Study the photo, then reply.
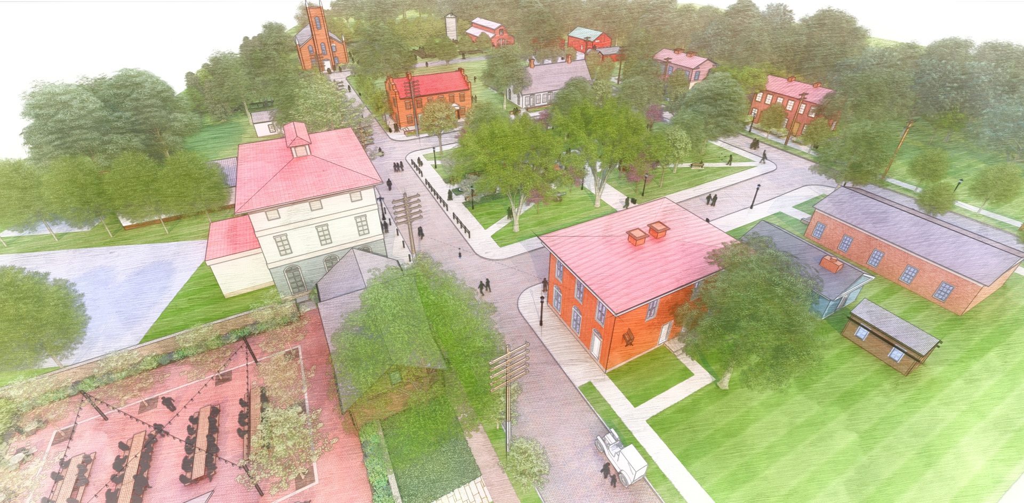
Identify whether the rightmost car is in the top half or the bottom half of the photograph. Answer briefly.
bottom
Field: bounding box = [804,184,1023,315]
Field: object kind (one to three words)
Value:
building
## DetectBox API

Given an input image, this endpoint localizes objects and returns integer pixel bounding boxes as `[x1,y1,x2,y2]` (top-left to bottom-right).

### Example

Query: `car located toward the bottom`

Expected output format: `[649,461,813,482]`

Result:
[595,431,651,492]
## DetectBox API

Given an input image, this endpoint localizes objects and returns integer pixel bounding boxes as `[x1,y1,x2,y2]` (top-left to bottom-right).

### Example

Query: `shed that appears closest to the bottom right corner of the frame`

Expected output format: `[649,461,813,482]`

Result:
[842,291,955,376]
